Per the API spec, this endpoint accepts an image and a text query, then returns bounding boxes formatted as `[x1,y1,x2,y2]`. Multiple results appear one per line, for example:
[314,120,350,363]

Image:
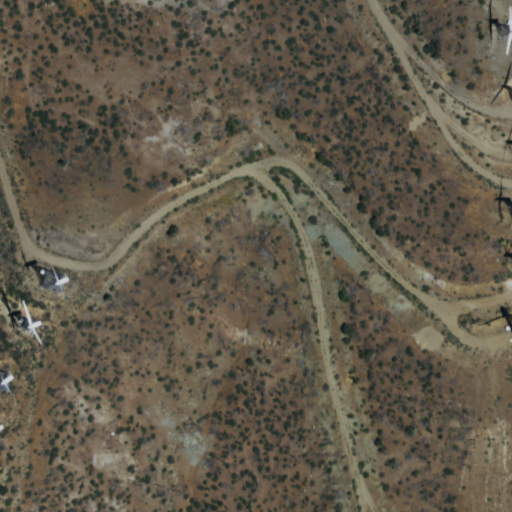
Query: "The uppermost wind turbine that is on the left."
[43,266,68,296]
